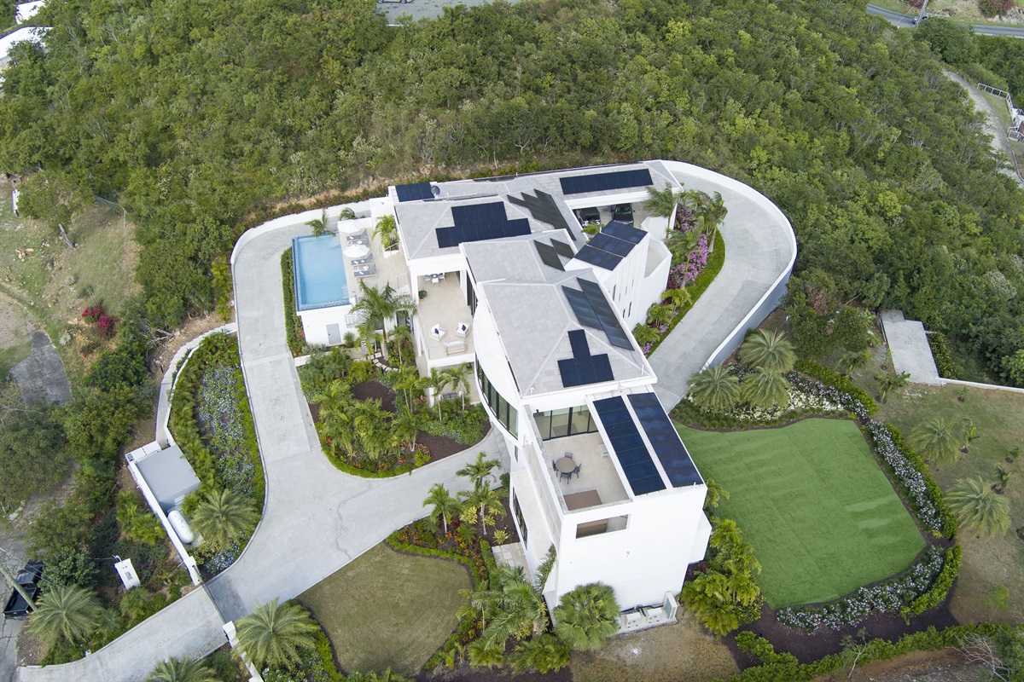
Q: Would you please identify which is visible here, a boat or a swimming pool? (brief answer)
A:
swimming pool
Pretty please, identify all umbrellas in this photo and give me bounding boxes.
[342,242,372,272]
[335,218,362,243]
